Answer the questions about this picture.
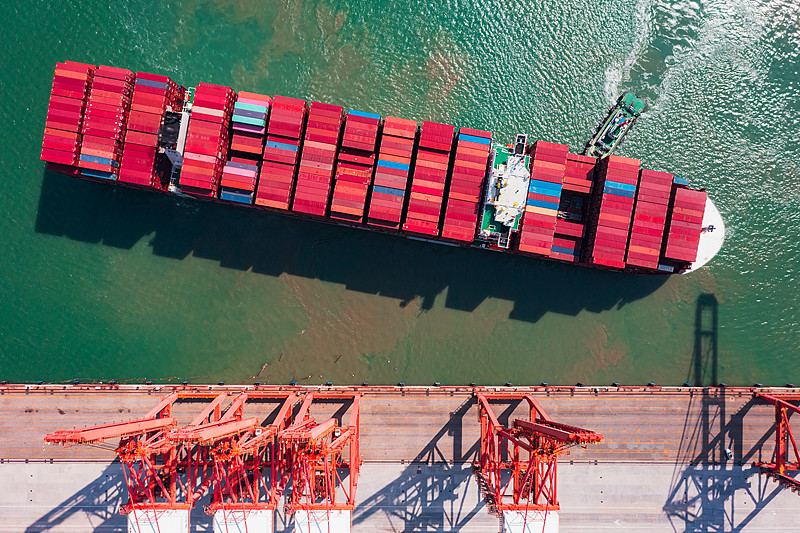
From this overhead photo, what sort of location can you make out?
port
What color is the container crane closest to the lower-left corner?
red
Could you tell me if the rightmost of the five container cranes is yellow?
No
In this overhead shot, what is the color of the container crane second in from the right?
red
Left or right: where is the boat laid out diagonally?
right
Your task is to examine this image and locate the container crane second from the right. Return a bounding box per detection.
[466,392,609,533]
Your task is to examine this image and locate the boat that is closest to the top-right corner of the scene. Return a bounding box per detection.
[580,92,645,159]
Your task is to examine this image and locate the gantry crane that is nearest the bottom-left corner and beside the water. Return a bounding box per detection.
[40,392,236,533]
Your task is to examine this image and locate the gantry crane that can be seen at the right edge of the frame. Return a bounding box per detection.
[742,393,800,503]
